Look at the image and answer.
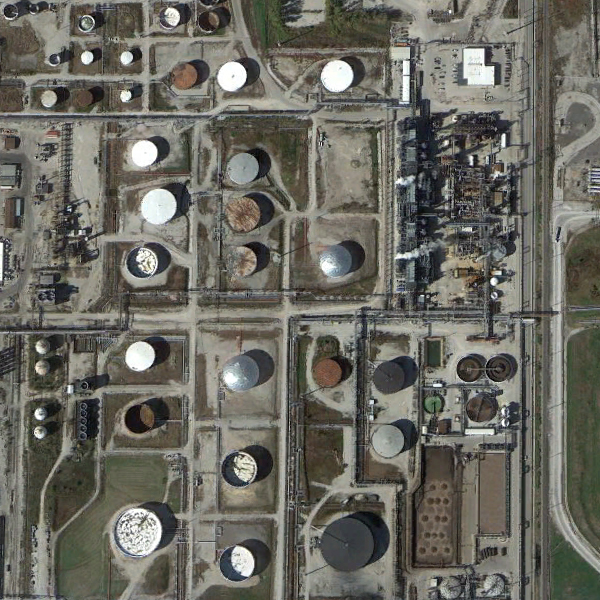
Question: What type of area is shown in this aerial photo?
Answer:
industrial area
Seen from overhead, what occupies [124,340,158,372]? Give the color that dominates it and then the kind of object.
white storage tank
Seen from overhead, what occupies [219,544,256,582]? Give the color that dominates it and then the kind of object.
white storage tank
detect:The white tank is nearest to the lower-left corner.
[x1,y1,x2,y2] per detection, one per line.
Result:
[113,506,165,557]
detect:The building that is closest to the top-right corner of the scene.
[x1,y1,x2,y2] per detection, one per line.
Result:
[463,48,495,86]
